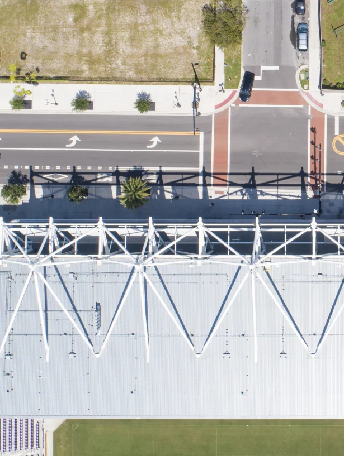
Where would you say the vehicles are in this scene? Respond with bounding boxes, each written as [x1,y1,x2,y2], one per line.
[238,71,254,102]
[296,23,308,51]
[294,0,305,15]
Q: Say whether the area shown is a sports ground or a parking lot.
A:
sports ground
